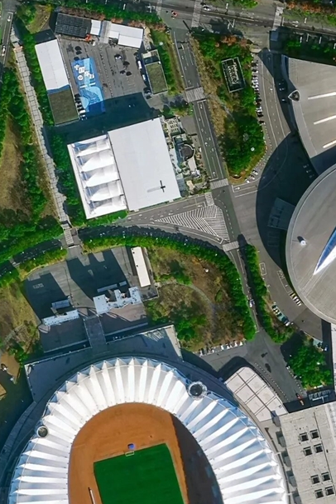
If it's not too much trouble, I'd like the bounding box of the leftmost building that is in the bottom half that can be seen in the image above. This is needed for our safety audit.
[41,299,80,325]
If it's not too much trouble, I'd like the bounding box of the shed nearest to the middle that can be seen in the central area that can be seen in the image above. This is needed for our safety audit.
[131,248,151,286]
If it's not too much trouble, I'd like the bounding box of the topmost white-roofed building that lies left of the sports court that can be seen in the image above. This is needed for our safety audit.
[33,38,69,95]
